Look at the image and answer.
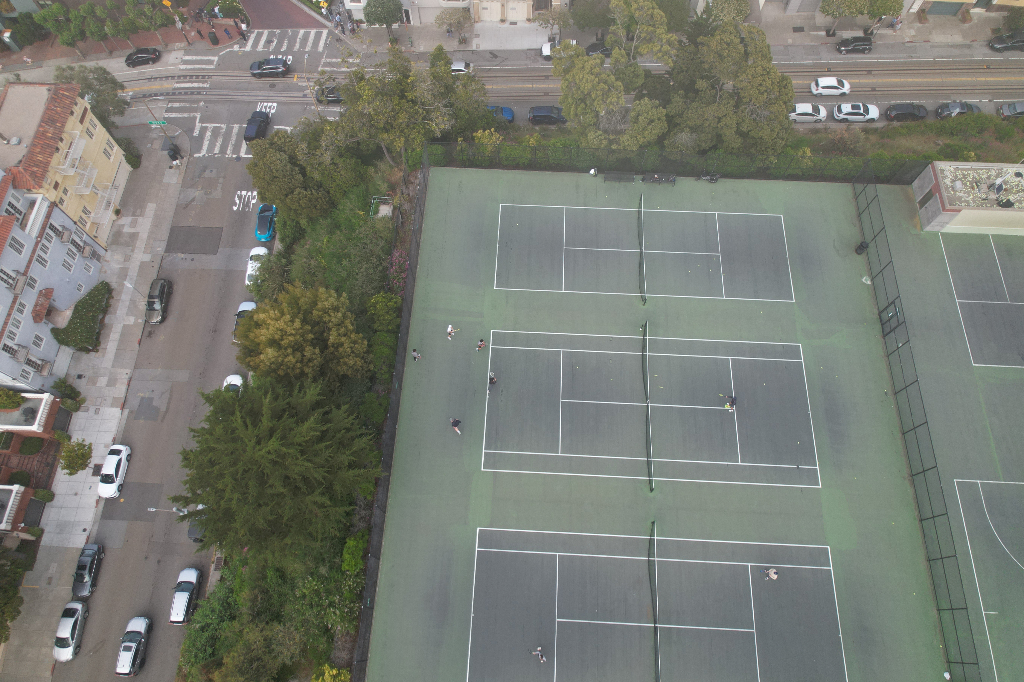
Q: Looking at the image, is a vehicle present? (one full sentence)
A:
Yes, there's a vehicle down there.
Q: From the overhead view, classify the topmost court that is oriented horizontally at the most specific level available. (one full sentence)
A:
The topmost court that is oriented horizontally appears to be a tennis court.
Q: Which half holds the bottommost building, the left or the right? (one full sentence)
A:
You can find the bottommost building on the left side of the picture.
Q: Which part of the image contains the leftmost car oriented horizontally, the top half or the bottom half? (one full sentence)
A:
The top half of the photo is where the leftmost car oriented horizontally is.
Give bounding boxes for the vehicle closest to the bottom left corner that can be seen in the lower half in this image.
[52,603,89,663]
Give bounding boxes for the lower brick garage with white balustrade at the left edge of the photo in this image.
[0,486,32,535]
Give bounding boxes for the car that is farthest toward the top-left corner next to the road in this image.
[120,45,163,67]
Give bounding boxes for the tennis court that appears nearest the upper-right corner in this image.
[940,233,1024,369]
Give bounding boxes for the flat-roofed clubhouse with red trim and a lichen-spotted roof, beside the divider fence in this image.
[911,161,1024,236]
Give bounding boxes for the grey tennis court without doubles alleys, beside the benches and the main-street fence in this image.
[494,203,795,302]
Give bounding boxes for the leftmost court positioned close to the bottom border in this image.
[467,528,848,682]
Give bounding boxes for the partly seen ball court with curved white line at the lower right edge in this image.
[955,476,1024,682]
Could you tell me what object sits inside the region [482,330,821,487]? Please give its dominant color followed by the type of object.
gray tennis court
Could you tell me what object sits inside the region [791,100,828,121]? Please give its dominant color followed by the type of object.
white car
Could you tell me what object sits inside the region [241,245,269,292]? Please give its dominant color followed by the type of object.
white car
